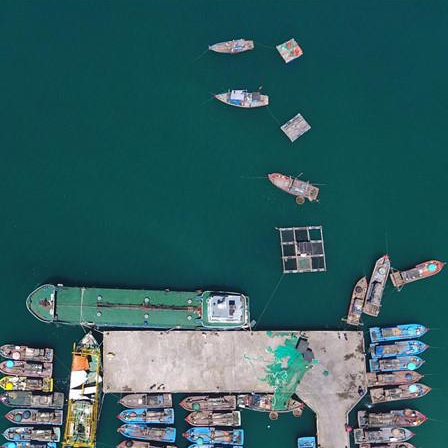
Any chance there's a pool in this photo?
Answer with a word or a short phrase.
No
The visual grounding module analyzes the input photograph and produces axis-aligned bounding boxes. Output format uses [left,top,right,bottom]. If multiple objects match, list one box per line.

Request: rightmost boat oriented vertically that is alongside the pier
[362,254,388,316]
